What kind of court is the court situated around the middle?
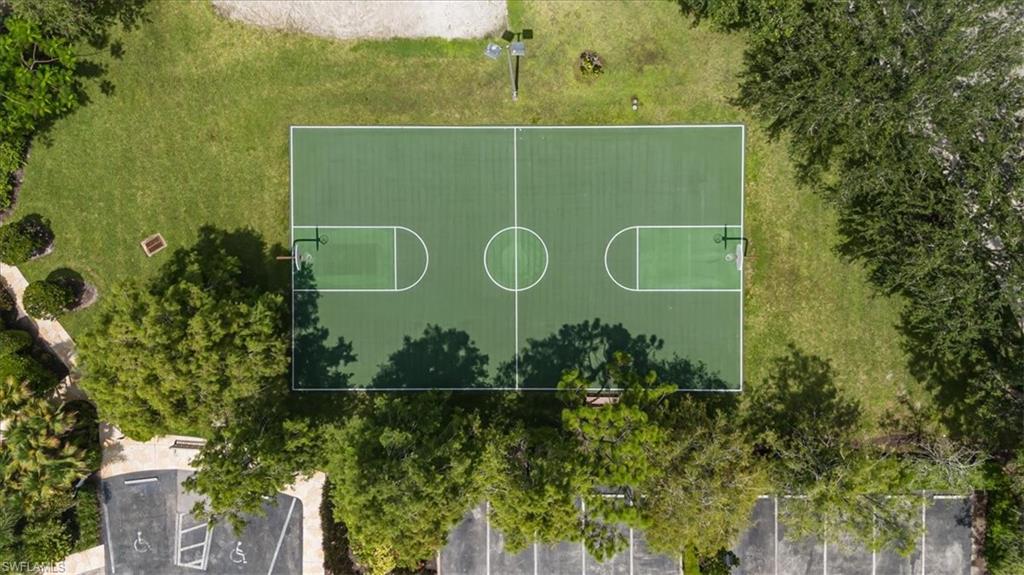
basketball court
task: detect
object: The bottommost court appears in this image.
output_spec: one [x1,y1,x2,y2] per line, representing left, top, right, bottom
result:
[289,124,745,392]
